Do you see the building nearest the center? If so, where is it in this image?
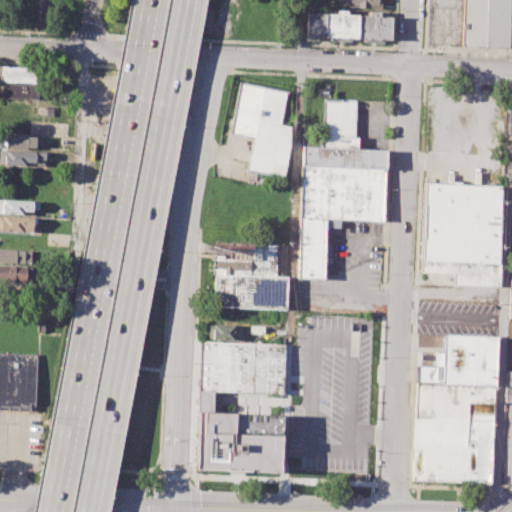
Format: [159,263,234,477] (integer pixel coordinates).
[215,256,290,310]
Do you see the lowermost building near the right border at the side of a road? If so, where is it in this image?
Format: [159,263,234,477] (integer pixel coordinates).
[416,336,500,482]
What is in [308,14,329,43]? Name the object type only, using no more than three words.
house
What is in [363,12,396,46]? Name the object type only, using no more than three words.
house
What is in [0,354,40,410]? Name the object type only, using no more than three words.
building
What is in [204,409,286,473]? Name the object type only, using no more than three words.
building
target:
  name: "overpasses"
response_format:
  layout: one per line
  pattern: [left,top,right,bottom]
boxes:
[36,0,210,512]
